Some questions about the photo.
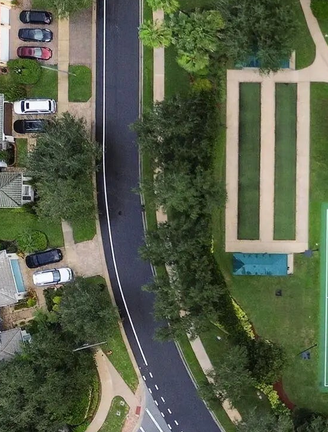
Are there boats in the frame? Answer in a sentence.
No, the photo shows no boat.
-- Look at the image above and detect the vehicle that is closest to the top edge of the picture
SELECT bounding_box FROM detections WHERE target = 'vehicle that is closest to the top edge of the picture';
[20,9,54,25]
